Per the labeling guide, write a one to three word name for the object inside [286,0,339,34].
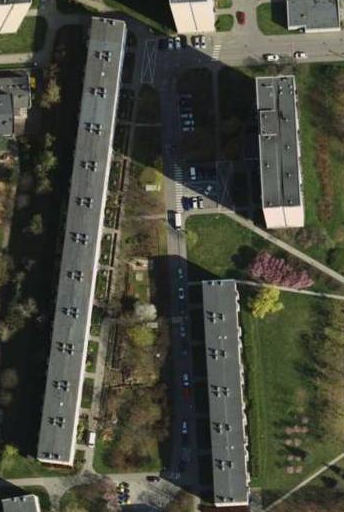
building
